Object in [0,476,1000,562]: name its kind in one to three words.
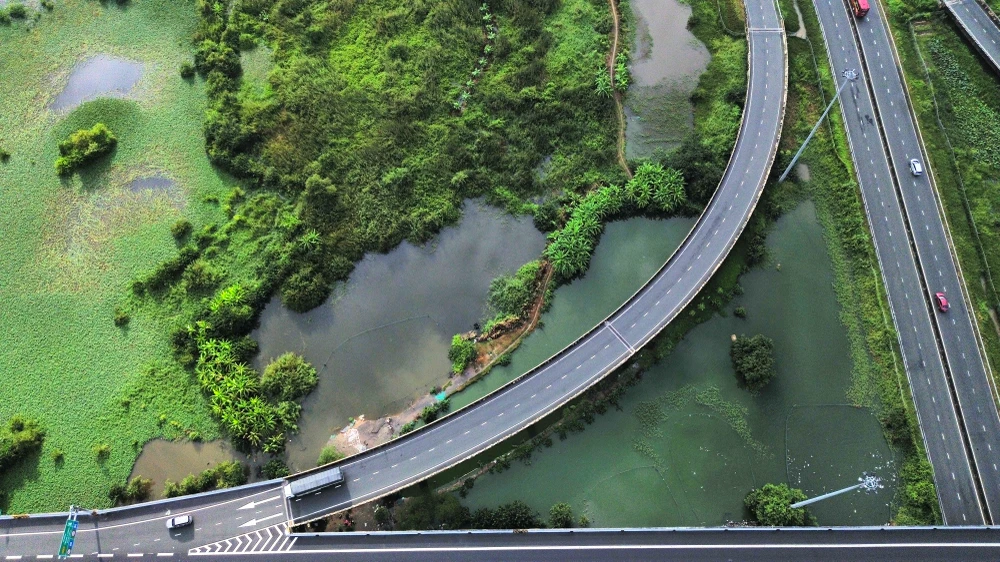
bridge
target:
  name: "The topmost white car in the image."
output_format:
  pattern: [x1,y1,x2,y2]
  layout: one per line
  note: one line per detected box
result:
[909,158,925,176]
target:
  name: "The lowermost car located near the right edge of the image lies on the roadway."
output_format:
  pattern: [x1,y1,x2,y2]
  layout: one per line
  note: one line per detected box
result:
[934,291,952,313]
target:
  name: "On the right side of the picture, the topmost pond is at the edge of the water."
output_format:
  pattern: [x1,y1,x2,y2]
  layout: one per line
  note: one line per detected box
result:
[626,0,715,165]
